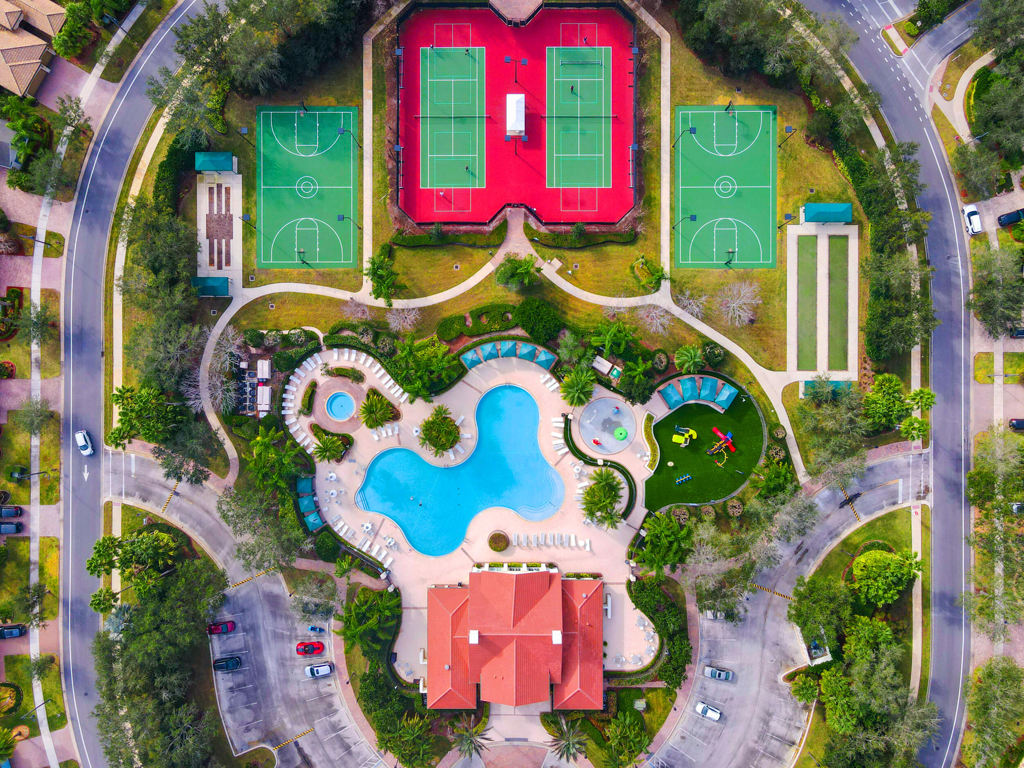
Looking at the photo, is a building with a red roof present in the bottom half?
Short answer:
Yes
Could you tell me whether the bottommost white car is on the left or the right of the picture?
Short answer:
right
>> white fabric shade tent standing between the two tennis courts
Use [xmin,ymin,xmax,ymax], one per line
[507,94,525,136]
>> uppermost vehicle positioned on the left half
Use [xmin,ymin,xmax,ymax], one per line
[77,430,96,456]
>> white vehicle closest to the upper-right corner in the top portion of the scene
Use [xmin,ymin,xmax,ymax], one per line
[960,206,980,235]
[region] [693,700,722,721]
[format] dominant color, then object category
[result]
white car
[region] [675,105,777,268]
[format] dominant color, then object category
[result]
green basketball court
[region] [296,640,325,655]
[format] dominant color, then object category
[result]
red car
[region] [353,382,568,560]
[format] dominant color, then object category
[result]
blue swimming pool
